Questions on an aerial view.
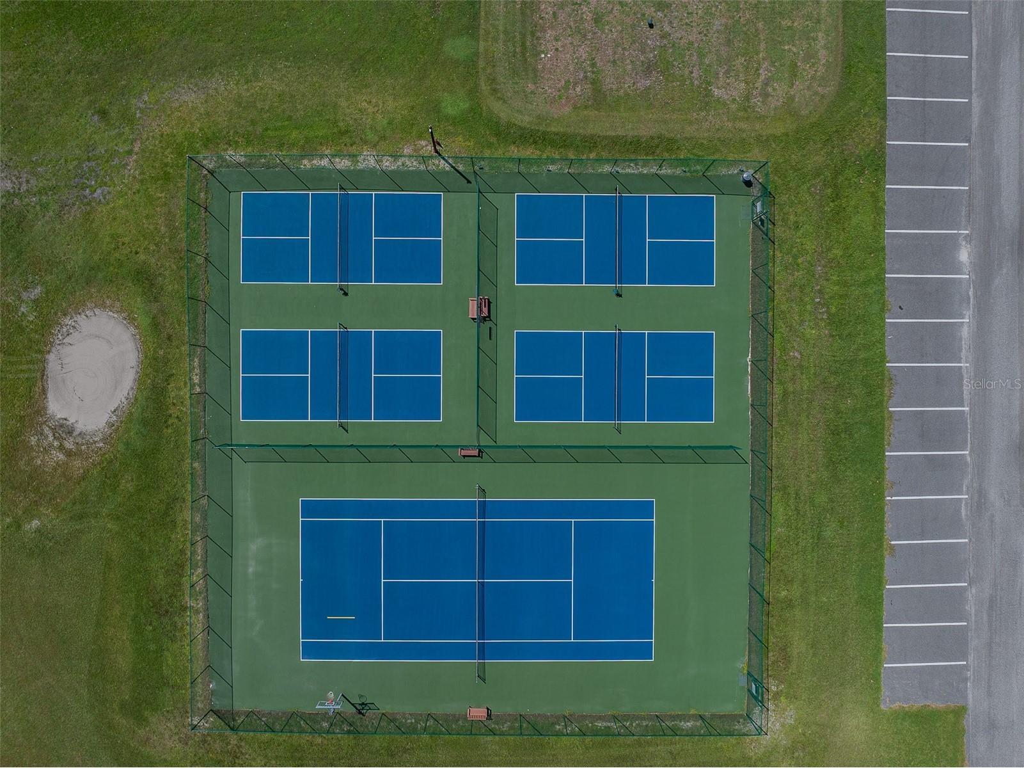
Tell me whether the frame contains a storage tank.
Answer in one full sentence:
No, I can see no storage tank in this picture.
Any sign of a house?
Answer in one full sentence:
No, the photo shows no house.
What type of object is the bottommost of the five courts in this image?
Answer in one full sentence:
The bottommost of the five courts is a tennis court.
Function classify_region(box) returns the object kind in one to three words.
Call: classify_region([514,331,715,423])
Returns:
sports court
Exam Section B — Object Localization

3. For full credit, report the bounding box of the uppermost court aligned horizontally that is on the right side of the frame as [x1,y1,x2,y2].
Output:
[515,194,715,286]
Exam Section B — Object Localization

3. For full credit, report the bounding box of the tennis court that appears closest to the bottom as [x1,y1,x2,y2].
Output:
[300,498,655,661]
